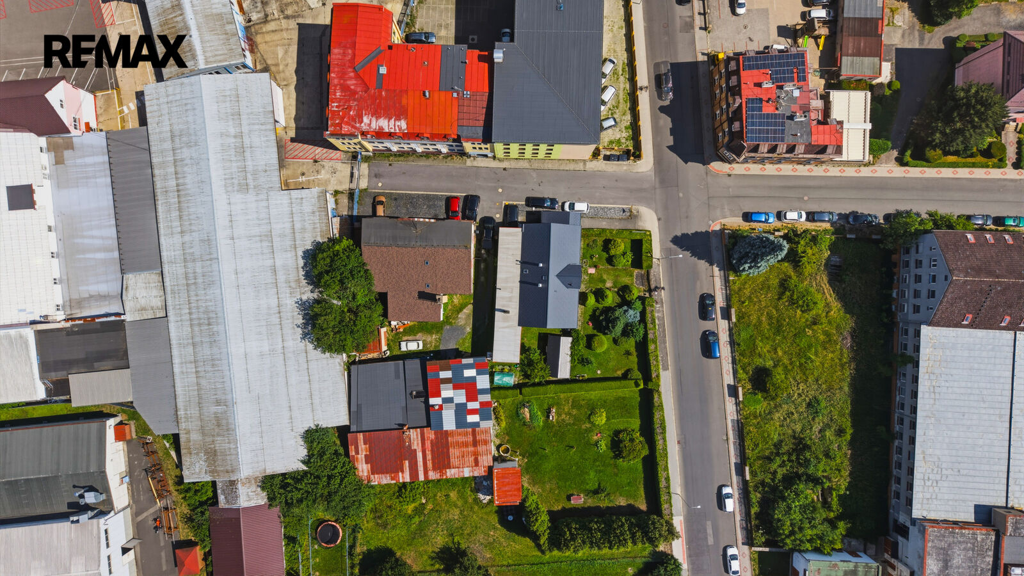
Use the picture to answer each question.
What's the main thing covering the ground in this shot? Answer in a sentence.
For the most part, this view shows buildings.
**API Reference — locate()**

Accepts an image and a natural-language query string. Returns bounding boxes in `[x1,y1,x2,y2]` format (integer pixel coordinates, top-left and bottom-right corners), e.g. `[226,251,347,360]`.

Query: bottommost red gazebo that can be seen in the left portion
[175,545,209,576]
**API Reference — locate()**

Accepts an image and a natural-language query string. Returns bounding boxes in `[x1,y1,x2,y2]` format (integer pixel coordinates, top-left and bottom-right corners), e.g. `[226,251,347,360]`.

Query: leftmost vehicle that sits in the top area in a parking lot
[374,196,386,220]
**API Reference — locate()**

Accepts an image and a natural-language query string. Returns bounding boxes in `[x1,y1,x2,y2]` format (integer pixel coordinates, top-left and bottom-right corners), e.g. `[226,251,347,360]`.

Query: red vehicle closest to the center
[448,197,460,220]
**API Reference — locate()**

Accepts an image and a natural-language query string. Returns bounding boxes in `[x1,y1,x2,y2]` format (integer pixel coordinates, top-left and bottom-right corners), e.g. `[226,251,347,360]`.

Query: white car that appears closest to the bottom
[727,548,740,575]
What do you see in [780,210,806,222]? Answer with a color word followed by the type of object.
white vehicle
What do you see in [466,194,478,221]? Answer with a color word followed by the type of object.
black vehicle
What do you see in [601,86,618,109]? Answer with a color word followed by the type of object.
white car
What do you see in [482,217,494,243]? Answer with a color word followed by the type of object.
black vehicle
